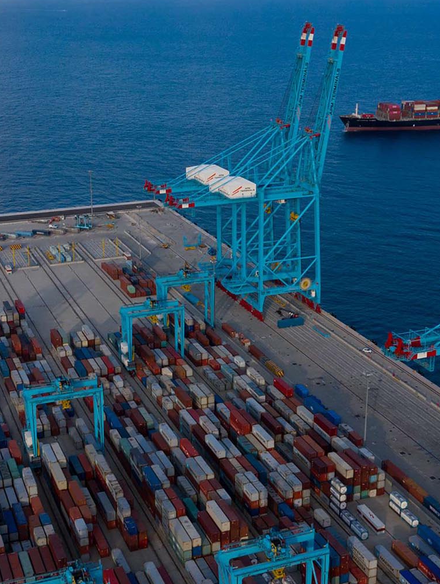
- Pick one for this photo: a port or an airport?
port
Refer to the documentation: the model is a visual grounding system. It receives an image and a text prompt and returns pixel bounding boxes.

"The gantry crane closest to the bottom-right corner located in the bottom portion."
[222,522,336,584]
